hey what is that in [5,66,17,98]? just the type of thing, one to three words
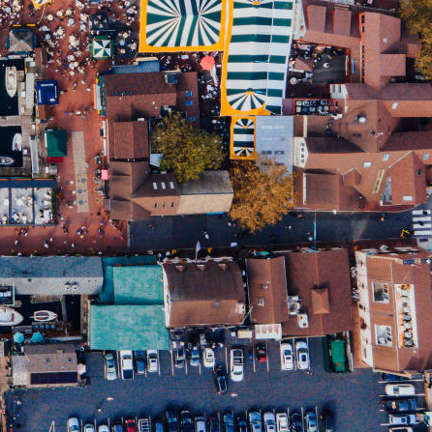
boat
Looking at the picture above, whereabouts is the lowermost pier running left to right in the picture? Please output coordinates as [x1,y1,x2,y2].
[0,323,83,348]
